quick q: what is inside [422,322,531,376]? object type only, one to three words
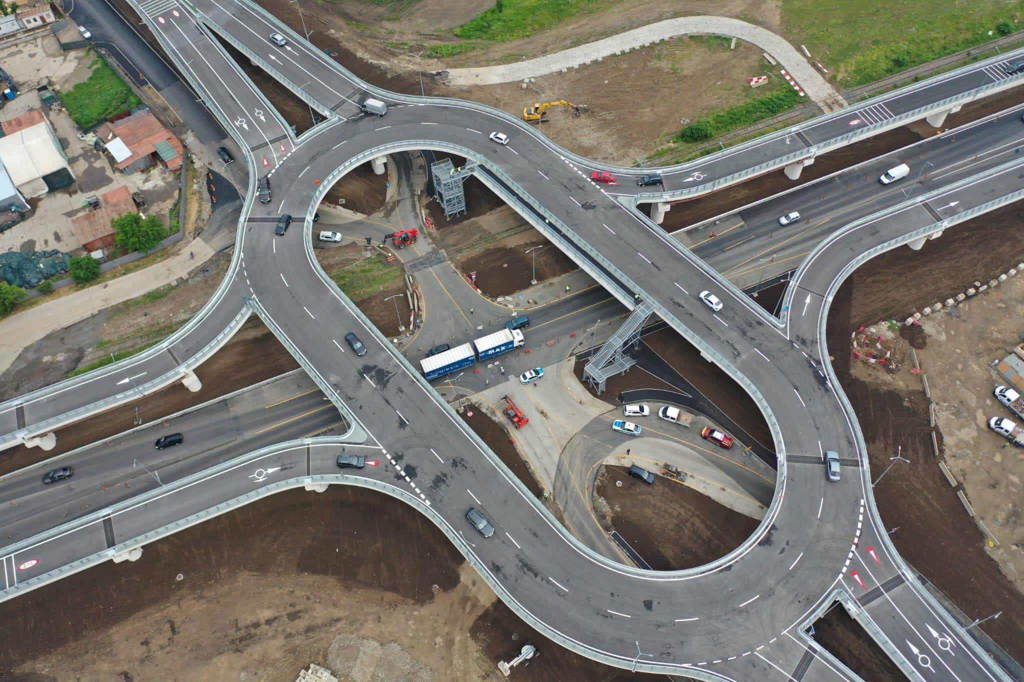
truck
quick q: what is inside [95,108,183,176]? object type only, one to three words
shed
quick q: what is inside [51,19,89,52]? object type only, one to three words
building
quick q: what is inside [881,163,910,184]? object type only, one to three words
vehicle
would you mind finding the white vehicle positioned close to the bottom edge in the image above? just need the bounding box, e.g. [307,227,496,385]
[500,642,541,674]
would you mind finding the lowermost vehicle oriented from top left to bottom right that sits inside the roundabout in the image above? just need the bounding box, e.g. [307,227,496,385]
[464,505,496,538]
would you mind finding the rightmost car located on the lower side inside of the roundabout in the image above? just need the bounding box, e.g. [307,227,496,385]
[824,450,841,482]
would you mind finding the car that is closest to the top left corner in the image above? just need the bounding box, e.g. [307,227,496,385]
[75,24,93,38]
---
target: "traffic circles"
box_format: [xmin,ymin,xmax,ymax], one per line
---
[154,23,916,682]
